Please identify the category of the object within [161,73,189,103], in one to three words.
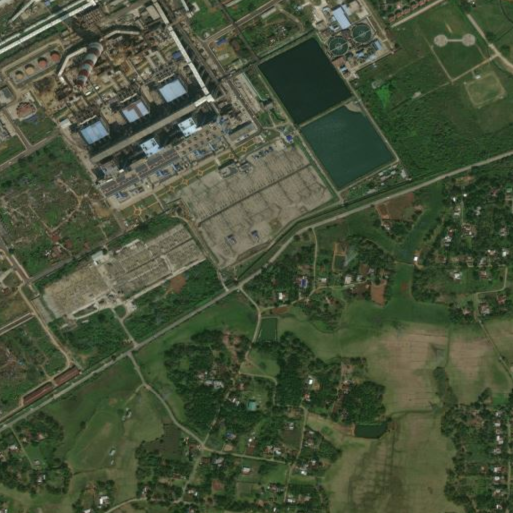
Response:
building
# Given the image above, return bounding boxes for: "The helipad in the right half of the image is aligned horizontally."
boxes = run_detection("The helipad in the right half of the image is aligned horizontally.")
[434,34,475,47]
